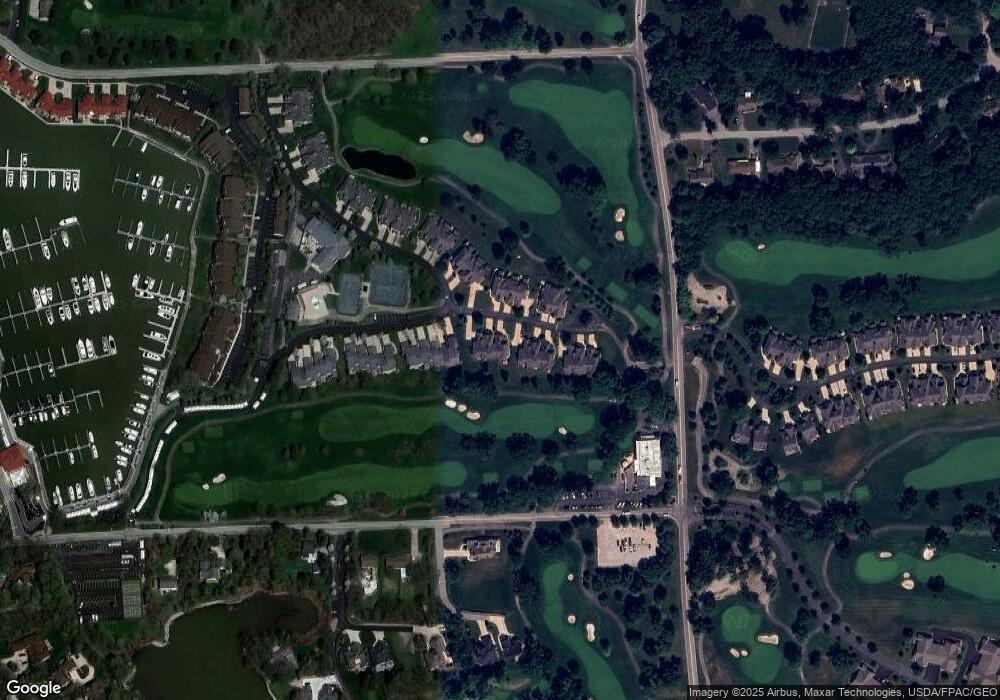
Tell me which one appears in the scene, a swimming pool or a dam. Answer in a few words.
swimming pool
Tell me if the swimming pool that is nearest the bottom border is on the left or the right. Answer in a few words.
left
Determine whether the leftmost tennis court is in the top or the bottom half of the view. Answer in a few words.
bottom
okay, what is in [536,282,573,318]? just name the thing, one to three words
house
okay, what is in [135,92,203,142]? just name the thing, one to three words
building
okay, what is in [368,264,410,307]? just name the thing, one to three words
tennis court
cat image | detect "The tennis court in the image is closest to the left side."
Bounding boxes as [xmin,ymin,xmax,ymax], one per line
[122,581,142,619]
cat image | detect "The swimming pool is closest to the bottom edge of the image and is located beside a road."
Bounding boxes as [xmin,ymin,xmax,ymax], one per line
[299,281,333,320]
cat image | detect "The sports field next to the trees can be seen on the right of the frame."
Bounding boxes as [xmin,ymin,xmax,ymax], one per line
[809,0,849,49]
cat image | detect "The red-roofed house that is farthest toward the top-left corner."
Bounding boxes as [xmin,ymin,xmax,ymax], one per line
[0,56,42,104]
